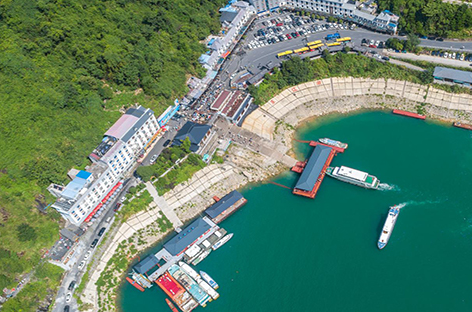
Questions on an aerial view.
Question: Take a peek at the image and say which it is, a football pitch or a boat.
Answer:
boat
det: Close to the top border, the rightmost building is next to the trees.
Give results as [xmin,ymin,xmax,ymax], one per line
[379,11,401,34]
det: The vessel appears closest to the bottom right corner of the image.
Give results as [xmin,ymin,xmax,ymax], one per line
[380,204,401,249]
